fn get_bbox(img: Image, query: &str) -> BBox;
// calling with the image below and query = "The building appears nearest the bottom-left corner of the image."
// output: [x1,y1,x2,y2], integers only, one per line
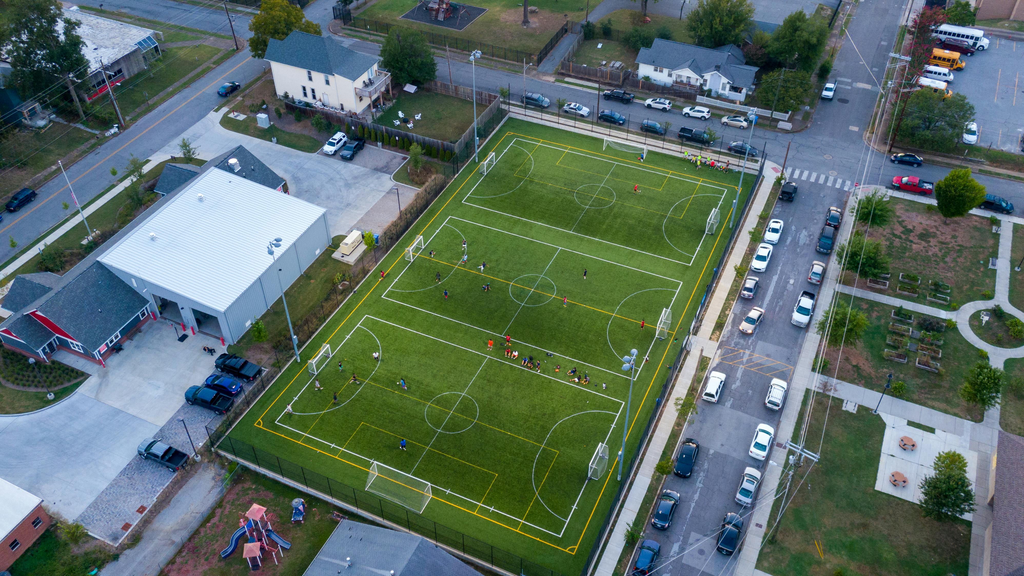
[0,480,49,571]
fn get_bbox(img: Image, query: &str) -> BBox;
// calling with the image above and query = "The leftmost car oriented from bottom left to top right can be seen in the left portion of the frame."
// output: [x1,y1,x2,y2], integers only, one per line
[6,188,36,210]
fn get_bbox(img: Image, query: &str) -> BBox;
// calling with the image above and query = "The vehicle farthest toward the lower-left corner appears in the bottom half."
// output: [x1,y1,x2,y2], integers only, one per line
[138,440,187,468]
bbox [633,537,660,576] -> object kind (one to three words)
car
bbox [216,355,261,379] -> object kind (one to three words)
vehicle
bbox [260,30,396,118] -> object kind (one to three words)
house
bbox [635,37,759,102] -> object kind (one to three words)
house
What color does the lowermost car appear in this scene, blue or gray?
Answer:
blue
